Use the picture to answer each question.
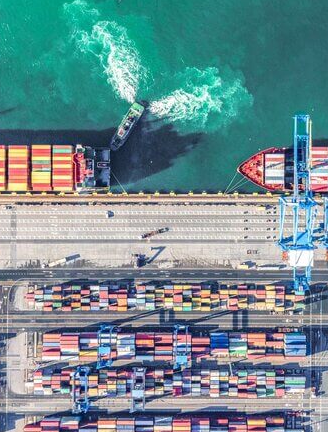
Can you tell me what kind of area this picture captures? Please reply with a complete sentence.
What you see here is a port.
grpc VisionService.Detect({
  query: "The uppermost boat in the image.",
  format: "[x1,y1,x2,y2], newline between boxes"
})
[113,102,145,148]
